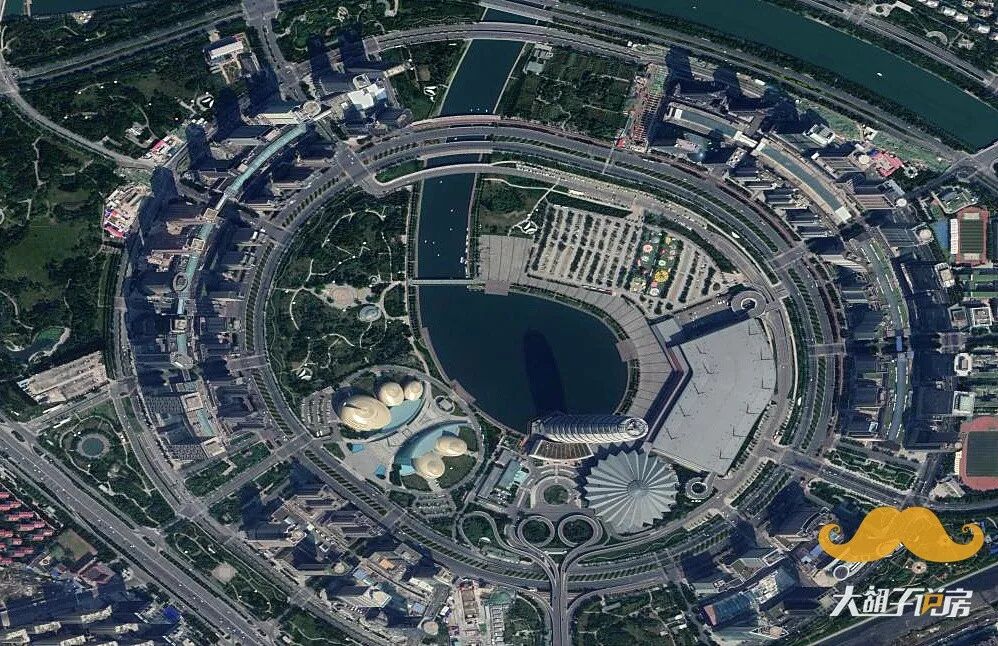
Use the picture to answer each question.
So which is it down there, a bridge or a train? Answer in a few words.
bridge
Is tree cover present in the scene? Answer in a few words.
Yes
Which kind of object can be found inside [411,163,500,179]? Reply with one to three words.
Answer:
bridge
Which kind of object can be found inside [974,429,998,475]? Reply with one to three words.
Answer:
sports field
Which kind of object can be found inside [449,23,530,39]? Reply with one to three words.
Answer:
bridge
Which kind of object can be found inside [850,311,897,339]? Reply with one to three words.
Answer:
building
